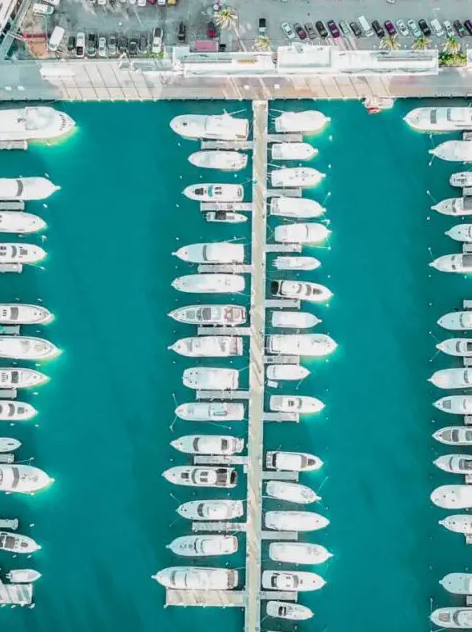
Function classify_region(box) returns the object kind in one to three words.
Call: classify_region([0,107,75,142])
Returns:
boat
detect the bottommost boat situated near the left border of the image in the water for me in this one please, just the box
[10,566,43,583]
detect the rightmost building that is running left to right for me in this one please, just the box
[277,34,439,80]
